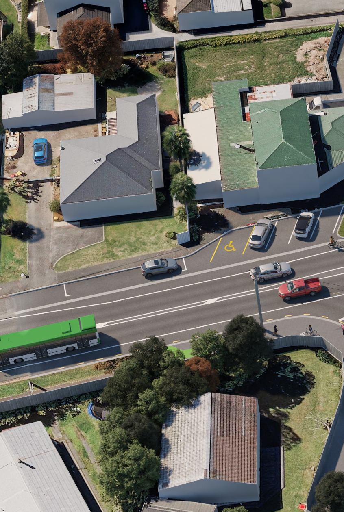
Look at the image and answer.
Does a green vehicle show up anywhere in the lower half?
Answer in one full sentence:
Yes, in the lower half there is a green vehicle.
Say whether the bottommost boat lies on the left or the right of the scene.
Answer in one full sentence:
You can find the bottommost boat on the left side of the picture.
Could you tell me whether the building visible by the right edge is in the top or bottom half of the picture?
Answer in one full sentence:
The building visible by the right edge is in the top half of the image.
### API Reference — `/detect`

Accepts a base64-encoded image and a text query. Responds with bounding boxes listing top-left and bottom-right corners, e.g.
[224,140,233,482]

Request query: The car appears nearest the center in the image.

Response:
[138,257,179,278]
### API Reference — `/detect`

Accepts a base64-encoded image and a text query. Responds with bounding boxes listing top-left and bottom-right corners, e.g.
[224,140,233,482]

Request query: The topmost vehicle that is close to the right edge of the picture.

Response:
[308,92,344,111]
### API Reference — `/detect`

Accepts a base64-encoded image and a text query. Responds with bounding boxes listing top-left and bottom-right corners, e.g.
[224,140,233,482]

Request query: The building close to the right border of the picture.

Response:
[213,77,344,206]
